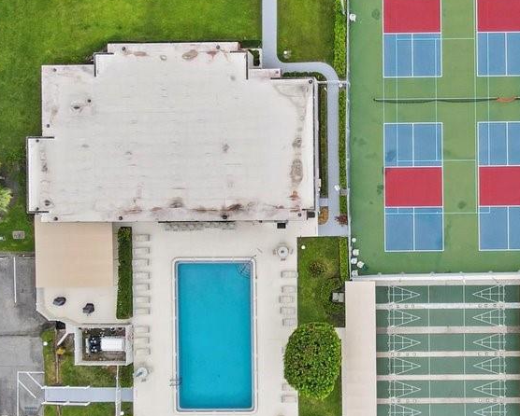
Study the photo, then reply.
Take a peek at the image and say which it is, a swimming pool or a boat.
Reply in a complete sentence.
Of the two, only a swimming pool appears.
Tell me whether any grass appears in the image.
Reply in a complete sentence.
Yes, there's grass in this view.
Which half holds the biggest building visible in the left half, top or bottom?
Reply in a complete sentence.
Seen from above, the biggest building visible in the left half lies in the top half of the view.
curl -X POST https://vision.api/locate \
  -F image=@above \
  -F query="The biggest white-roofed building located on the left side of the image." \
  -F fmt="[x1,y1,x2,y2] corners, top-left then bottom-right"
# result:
[26,42,319,223]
